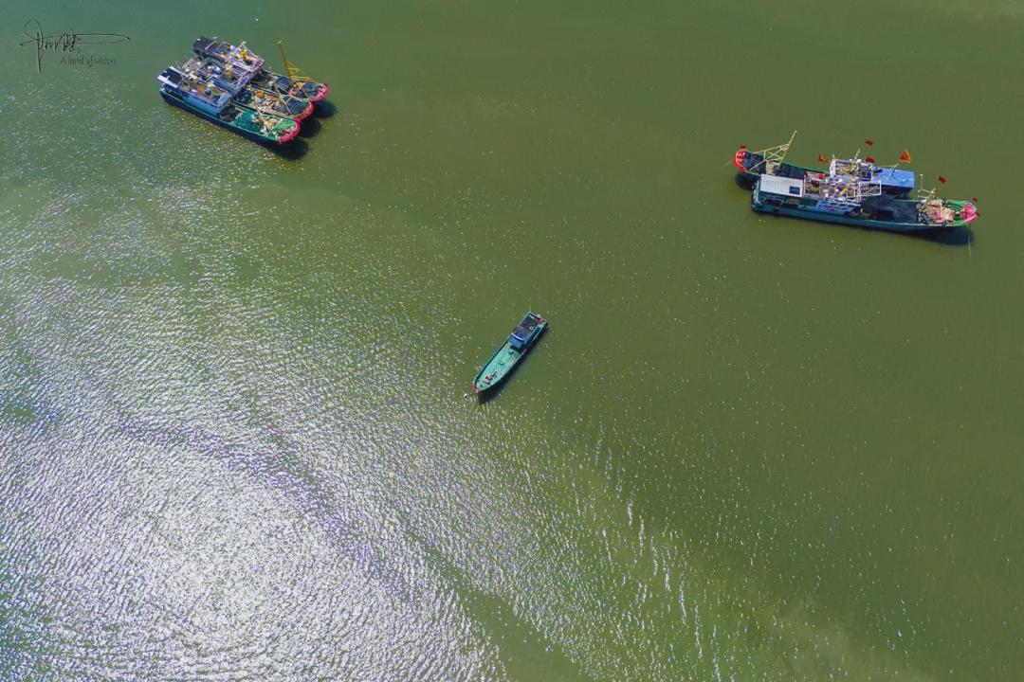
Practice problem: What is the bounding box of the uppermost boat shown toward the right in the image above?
[701,129,916,197]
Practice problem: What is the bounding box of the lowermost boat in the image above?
[472,308,546,393]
